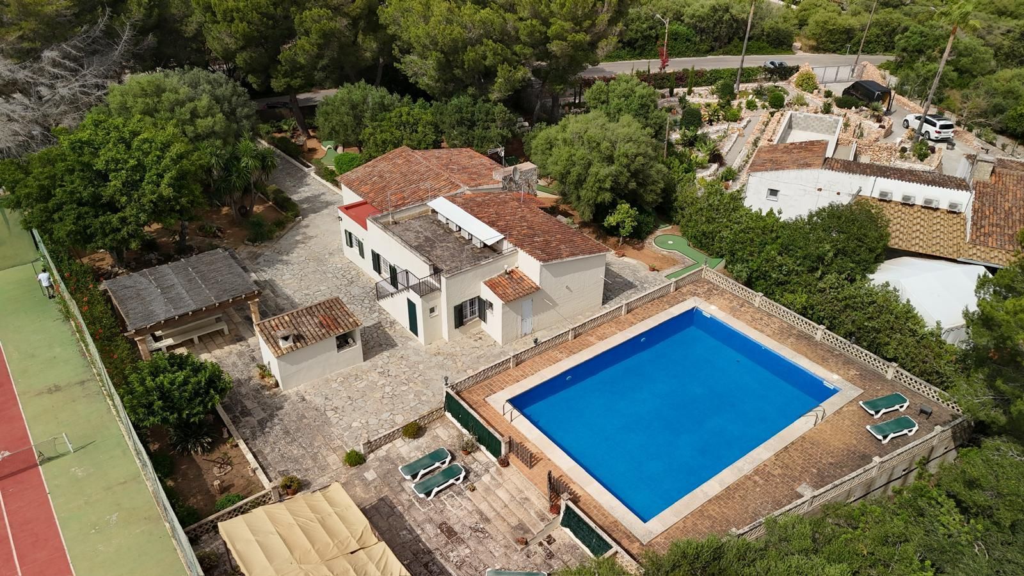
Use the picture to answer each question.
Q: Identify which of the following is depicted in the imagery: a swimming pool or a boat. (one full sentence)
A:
It is a swimming pool that can be seen here.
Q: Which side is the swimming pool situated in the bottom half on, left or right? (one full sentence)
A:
You can find the swimming pool situated in the bottom half on the right side of the picture.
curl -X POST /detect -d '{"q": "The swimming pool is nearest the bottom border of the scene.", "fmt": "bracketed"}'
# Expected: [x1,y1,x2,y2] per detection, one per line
[484,296,864,539]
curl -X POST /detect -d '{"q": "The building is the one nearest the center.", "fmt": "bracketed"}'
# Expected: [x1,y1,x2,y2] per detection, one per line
[337,144,617,345]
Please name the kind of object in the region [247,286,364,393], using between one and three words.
shed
